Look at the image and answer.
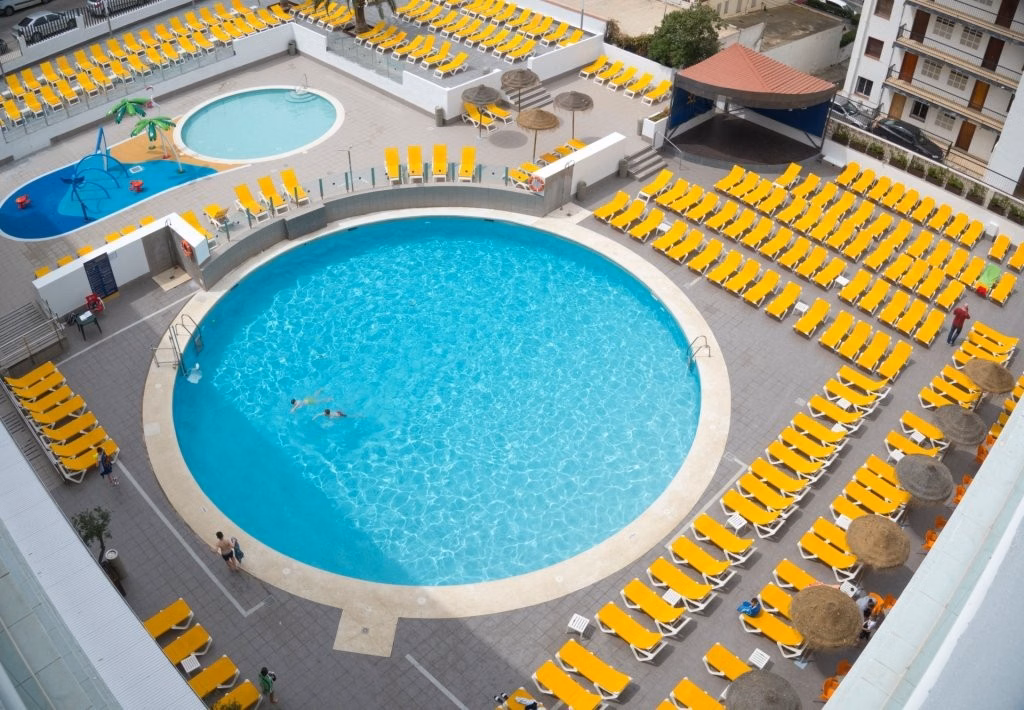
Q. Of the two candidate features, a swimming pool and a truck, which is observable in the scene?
swimming pool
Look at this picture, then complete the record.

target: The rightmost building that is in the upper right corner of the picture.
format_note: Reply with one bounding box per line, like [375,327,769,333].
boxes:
[840,0,1024,191]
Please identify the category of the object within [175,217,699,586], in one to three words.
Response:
swimming pool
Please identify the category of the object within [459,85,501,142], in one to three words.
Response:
umbrella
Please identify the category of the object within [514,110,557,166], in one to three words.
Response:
umbrella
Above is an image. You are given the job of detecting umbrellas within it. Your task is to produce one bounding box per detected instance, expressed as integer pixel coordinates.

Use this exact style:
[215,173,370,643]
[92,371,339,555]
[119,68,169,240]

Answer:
[500,70,540,105]
[555,90,597,139]
[459,85,501,142]
[848,527,916,600]
[723,674,803,710]
[786,585,864,666]
[890,459,956,531]
[514,110,557,166]
[925,406,986,454]
[958,363,1017,414]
